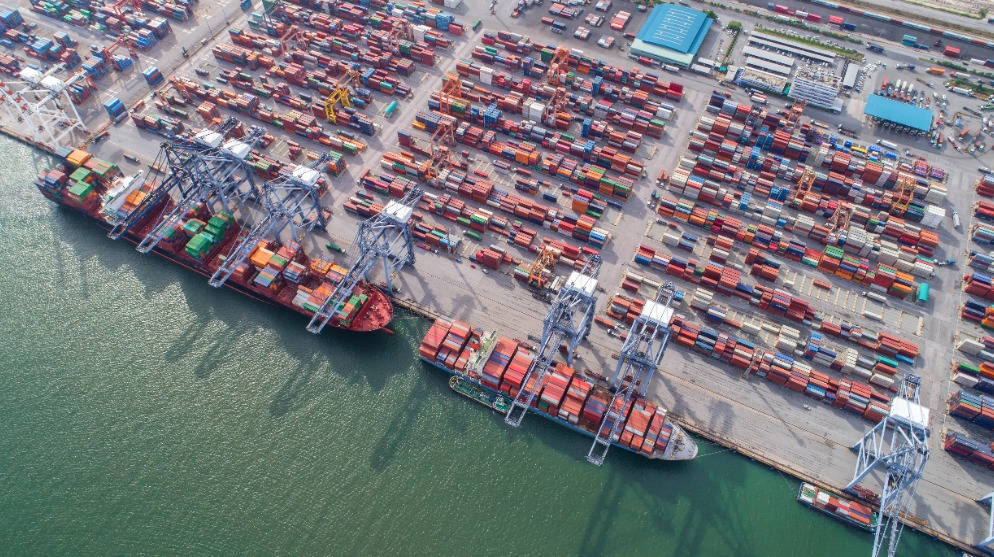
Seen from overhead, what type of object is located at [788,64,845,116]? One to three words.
building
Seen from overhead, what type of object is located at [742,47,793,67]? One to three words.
shed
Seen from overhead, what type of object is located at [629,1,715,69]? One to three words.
building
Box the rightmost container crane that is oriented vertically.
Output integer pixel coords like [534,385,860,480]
[967,489,994,555]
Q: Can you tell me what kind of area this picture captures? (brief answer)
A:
port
